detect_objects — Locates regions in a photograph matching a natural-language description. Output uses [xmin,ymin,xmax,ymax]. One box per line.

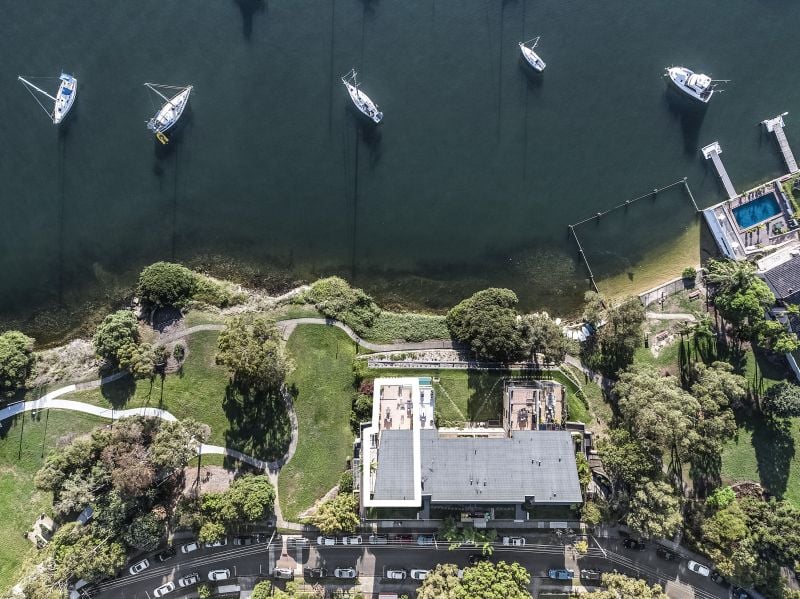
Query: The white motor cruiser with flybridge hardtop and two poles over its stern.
[666,68,738,106]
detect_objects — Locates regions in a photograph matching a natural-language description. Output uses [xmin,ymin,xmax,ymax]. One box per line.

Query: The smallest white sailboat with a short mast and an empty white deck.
[520,36,545,73]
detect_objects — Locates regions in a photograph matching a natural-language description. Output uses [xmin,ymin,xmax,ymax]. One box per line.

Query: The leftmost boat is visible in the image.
[18,73,75,123]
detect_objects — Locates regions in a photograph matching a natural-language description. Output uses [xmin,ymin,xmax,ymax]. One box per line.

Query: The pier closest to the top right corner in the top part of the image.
[762,112,799,173]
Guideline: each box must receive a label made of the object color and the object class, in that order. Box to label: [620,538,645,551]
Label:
black vehicle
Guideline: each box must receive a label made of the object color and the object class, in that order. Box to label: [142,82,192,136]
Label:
white boat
